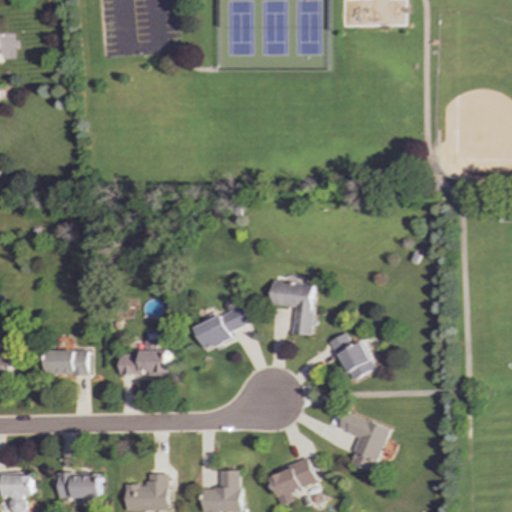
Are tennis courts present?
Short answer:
Yes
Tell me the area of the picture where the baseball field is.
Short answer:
top right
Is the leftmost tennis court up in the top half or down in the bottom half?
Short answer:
top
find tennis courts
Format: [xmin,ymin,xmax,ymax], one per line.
[294,0,325,56]
[260,0,291,56]
[226,0,256,56]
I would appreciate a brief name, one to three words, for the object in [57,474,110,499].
house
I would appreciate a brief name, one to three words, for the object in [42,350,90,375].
house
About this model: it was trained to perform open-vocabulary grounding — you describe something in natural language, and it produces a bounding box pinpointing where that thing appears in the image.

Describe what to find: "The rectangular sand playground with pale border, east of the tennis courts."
[344,0,408,28]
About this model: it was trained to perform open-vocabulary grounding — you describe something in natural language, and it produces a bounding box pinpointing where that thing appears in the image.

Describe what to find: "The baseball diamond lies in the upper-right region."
[432,88,512,178]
